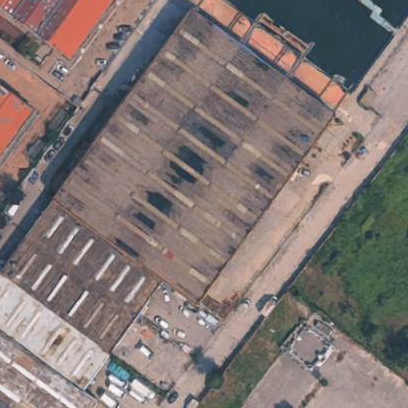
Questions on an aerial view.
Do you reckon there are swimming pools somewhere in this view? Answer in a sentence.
No, no swimming pool is visible in the scene.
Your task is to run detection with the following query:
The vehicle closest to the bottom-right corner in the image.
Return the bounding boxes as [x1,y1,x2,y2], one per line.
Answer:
[260,294,278,315]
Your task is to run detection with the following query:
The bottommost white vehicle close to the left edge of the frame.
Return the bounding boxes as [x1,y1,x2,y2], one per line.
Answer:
[9,203,22,220]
